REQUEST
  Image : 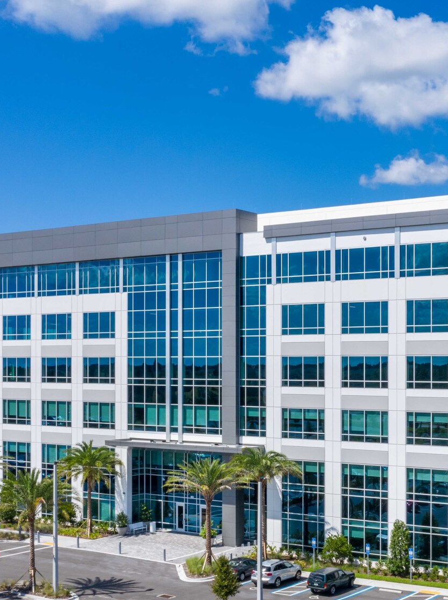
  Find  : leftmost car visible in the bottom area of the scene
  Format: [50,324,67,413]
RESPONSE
[237,562,257,582]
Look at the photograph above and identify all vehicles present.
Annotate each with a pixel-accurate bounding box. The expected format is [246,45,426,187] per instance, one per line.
[251,559,304,587]
[305,566,355,595]
[237,562,257,582]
